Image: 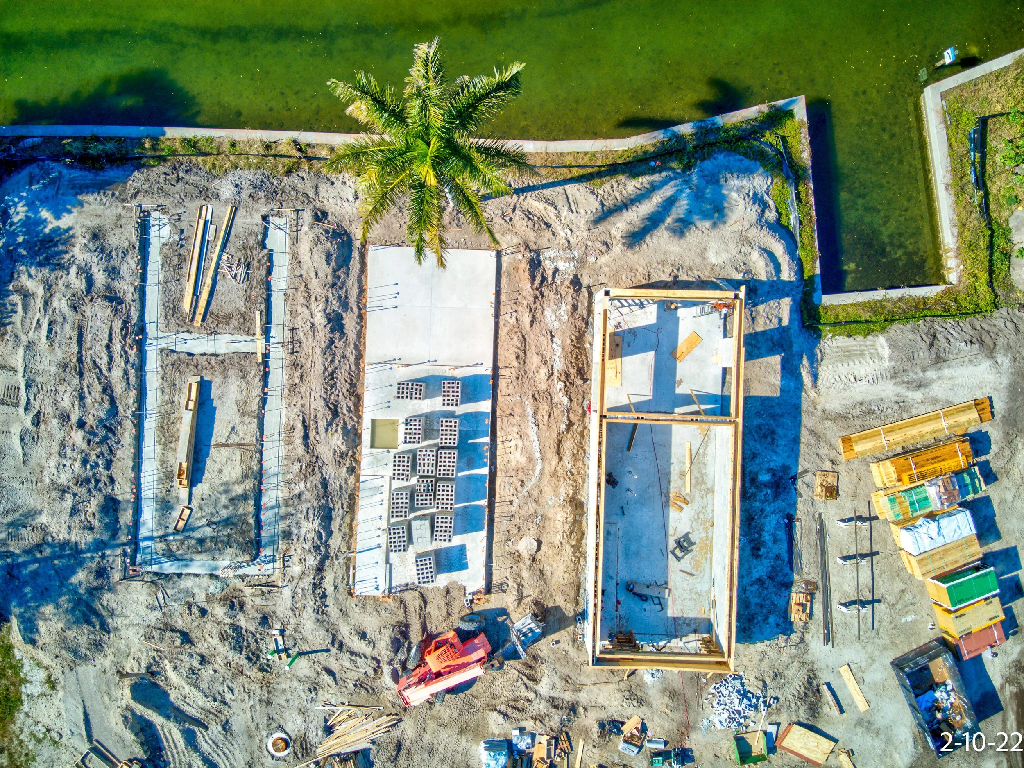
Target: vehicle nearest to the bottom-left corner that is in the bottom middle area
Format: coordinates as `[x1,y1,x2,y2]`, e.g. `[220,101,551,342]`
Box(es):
[397,609,545,712]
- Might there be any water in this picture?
Yes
